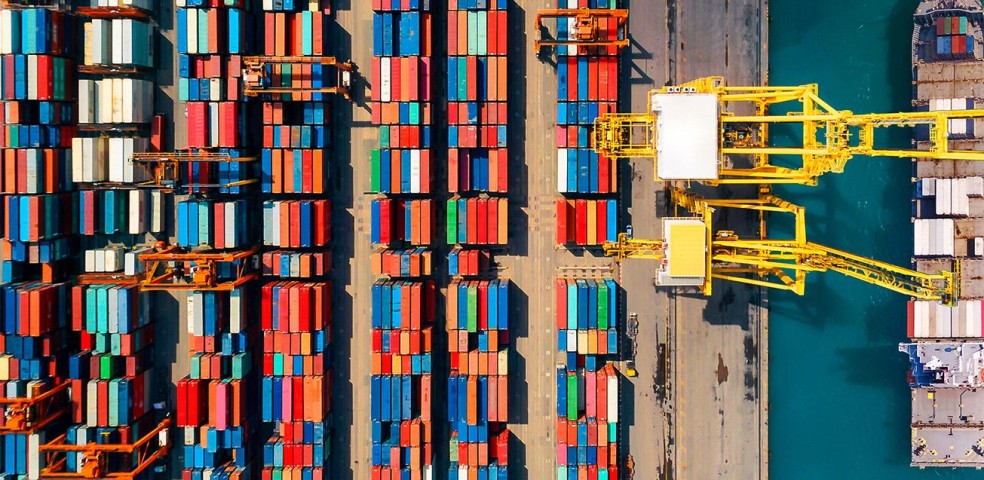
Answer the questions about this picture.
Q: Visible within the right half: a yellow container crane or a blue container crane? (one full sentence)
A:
The feature located within the right half is a yellow container crane.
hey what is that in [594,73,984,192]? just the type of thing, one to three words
container crane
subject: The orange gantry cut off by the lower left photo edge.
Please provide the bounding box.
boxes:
[0,376,72,436]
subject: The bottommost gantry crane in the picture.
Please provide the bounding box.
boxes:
[36,407,180,480]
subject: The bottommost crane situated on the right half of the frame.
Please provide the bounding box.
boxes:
[604,187,959,305]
